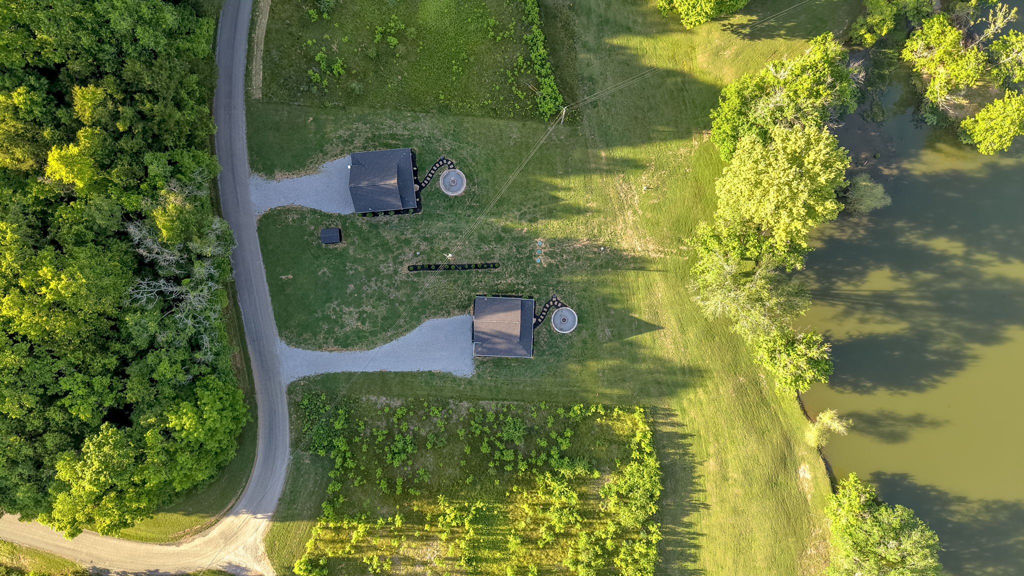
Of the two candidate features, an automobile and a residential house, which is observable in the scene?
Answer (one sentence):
I can see a residential house in this picture.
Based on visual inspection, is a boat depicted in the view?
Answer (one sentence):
No, no boat is visible in the scene.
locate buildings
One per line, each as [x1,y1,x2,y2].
[473,295,535,359]
[346,147,417,213]
[320,229,343,244]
